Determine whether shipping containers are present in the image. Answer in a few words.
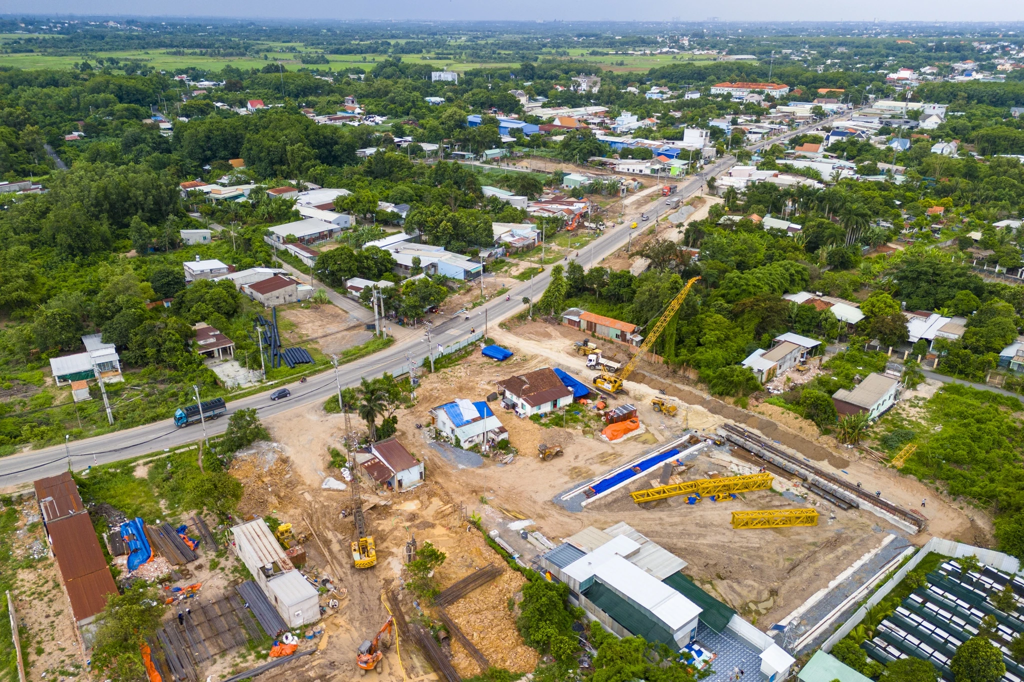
Yes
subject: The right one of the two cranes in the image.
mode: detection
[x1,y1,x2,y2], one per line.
[590,279,707,400]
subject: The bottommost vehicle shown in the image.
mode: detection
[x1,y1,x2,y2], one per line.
[352,613,395,681]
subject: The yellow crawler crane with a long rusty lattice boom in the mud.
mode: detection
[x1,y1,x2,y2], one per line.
[342,404,378,567]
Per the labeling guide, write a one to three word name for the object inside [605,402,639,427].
shipping container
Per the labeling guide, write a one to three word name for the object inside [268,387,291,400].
vehicle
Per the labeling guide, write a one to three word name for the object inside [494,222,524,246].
house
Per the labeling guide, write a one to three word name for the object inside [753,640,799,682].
shed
